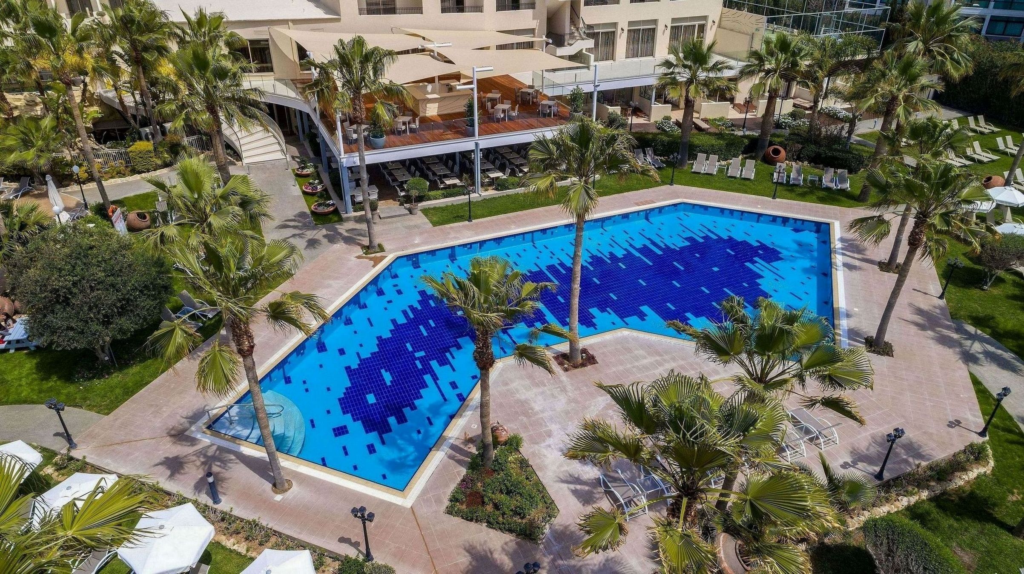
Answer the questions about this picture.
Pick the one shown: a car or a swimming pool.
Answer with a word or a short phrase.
swimming pool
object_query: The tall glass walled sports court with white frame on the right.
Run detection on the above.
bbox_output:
[719,0,890,57]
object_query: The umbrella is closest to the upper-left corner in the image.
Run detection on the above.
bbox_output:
[46,175,67,216]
